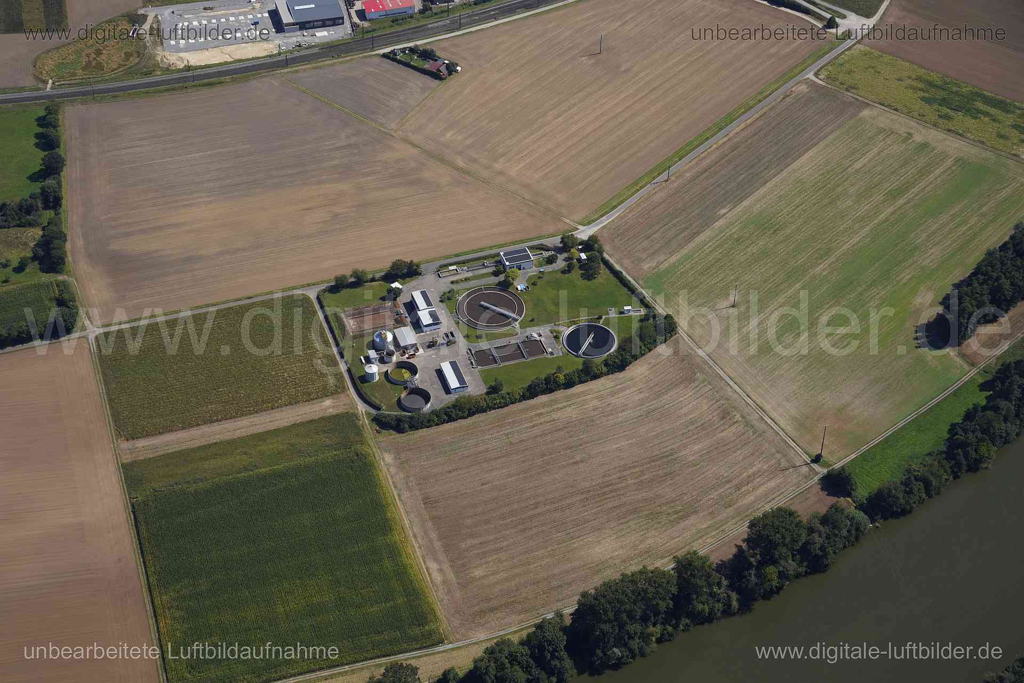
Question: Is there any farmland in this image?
Yes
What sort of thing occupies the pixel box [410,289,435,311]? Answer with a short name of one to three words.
building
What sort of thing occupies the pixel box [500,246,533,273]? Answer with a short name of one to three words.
house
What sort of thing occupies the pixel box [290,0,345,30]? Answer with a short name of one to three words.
building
